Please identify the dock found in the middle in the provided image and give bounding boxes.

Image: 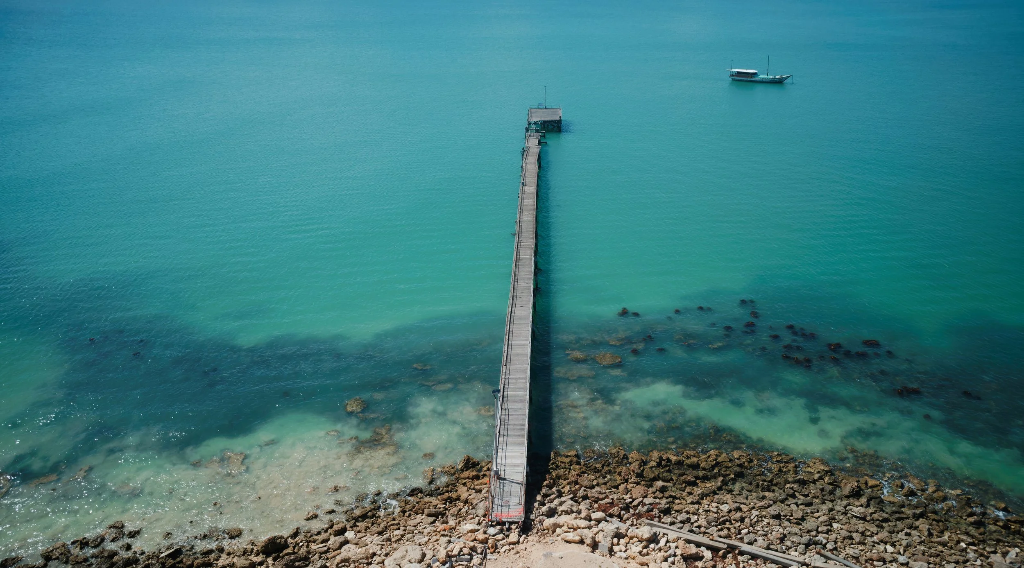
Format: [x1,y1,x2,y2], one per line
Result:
[489,144,546,529]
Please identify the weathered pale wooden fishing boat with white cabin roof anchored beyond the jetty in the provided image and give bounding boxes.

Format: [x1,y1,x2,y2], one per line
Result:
[726,56,794,84]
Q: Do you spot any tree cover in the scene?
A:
No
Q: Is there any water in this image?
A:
Yes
